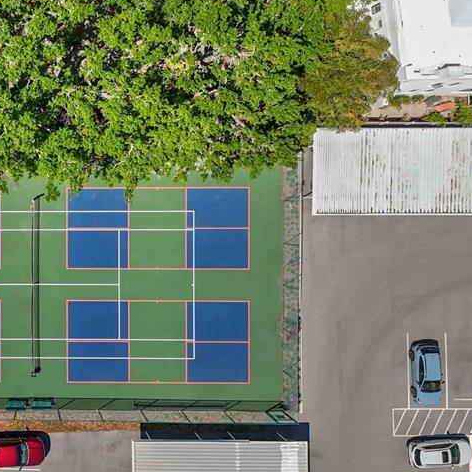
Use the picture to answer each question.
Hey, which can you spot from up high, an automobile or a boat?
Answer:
automobile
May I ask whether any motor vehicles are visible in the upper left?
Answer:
No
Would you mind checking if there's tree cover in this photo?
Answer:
Yes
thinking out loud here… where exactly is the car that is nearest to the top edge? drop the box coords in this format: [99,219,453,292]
[408,344,444,406]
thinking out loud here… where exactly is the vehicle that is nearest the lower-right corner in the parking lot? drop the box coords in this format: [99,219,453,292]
[405,437,471,471]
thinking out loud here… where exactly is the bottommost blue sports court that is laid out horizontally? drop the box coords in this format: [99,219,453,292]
[67,300,250,384]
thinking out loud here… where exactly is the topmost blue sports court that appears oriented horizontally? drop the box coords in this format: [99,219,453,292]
[67,187,250,270]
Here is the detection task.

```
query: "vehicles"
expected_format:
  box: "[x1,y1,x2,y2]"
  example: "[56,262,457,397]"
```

[0,436,43,472]
[408,344,444,406]
[405,437,471,471]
